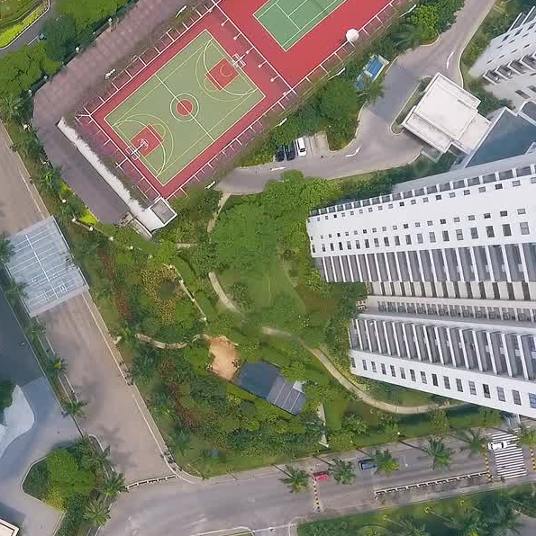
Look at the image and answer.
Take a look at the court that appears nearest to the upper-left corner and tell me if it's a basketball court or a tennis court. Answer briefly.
basketball court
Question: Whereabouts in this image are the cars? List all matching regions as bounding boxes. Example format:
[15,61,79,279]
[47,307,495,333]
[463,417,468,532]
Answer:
[488,440,507,450]
[313,472,328,481]
[358,459,379,471]
[284,141,294,159]
[295,137,306,155]
[274,144,285,162]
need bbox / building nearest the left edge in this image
[235,360,306,414]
